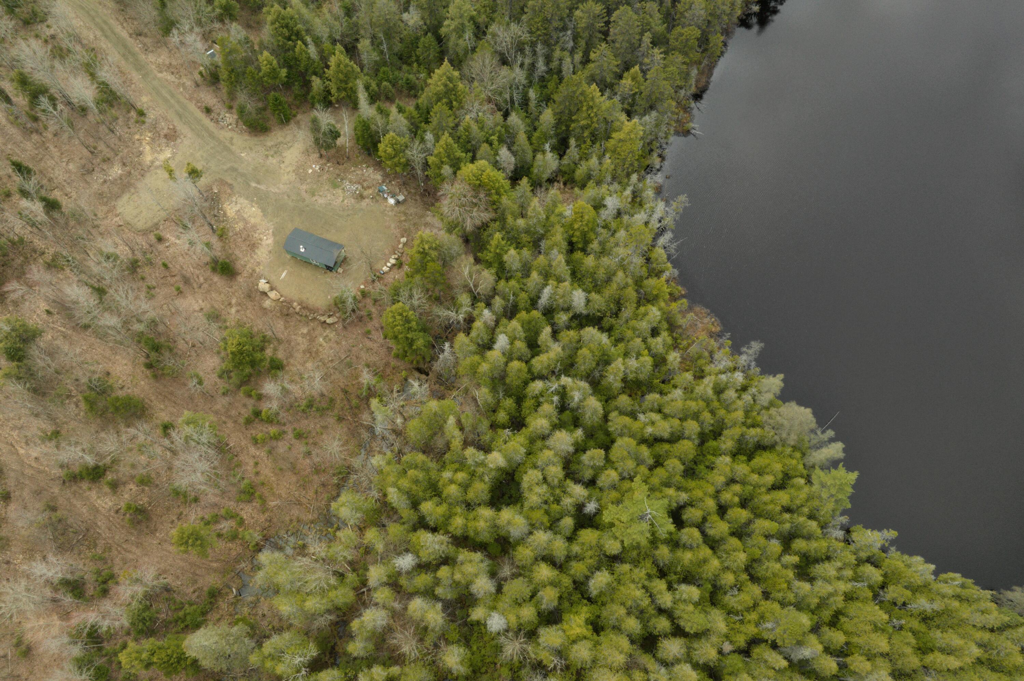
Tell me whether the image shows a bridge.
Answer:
No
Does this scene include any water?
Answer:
Yes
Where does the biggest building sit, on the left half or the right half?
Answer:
left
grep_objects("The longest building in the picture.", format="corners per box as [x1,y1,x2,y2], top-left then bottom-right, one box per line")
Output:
[283,228,346,272]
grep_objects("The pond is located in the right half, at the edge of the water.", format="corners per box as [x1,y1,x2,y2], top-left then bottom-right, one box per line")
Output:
[656,0,1024,623]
